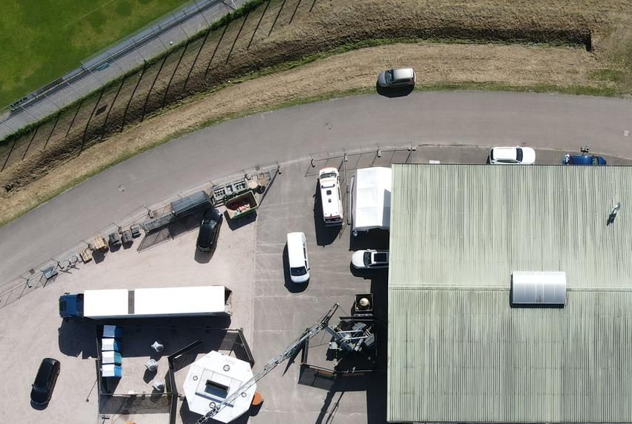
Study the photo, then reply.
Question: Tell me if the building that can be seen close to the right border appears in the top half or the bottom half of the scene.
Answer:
bottom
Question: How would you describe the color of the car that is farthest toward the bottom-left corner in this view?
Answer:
black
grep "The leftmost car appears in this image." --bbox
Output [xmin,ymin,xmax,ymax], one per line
[28,357,62,405]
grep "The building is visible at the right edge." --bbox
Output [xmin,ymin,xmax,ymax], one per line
[387,163,632,424]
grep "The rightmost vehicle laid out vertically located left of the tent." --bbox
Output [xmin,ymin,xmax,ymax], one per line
[316,171,344,229]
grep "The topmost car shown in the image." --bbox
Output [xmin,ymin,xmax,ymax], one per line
[379,67,416,89]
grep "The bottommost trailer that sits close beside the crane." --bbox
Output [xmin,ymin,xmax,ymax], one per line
[84,286,238,322]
